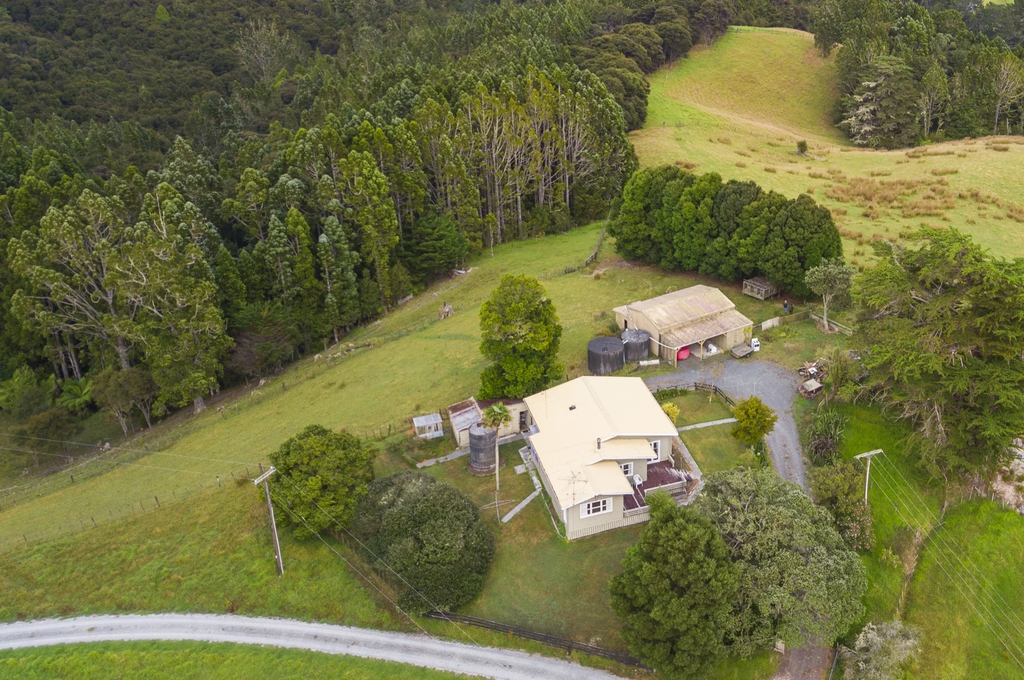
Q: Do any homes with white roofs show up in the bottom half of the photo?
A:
Yes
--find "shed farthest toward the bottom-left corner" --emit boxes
[412,415,445,444]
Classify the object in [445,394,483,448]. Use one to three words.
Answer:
shed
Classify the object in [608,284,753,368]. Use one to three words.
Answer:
shed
